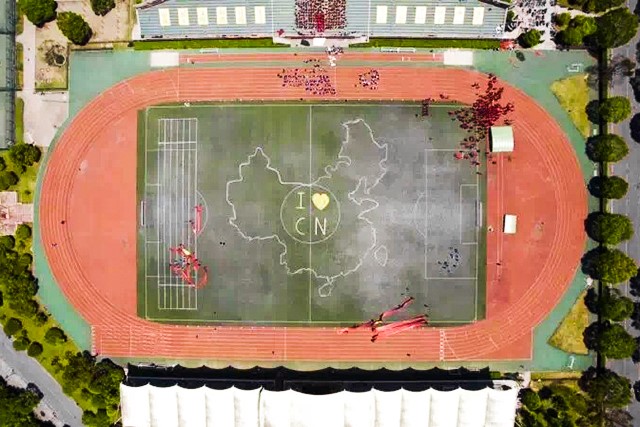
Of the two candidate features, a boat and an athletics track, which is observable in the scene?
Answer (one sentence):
The one in the frame is an athletics track.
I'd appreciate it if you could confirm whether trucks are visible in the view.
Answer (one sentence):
No, there isn't any truck down there.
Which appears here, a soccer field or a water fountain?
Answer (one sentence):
Visible in the photo is a soccer field.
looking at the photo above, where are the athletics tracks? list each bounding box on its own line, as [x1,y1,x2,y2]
[39,68,586,360]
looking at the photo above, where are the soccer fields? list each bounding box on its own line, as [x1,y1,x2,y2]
[138,98,487,328]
